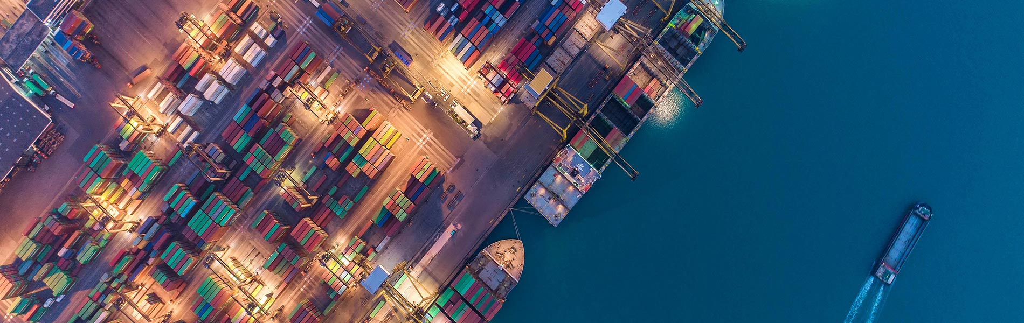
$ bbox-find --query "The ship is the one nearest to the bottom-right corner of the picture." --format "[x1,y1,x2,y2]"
[870,202,927,284]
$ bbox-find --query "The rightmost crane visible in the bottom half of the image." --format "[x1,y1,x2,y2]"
[364,252,450,323]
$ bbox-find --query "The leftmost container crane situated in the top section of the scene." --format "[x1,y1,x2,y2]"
[108,93,168,137]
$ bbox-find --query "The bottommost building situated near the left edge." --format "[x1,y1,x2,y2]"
[0,66,61,183]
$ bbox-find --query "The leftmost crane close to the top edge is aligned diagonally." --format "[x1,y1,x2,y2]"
[176,14,232,60]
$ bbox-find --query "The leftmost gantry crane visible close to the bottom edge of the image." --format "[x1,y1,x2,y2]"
[115,289,171,323]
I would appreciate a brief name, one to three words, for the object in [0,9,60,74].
building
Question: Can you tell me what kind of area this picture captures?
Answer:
port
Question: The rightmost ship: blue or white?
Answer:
blue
